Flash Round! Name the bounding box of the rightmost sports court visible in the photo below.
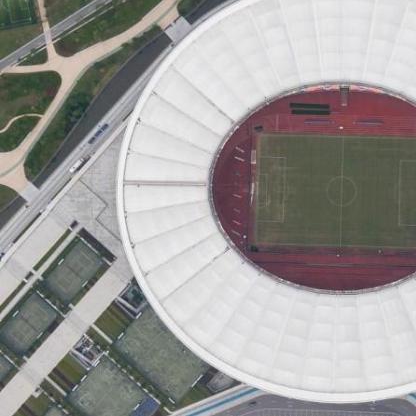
[115,301,206,399]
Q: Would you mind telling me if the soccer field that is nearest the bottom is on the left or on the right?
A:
right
